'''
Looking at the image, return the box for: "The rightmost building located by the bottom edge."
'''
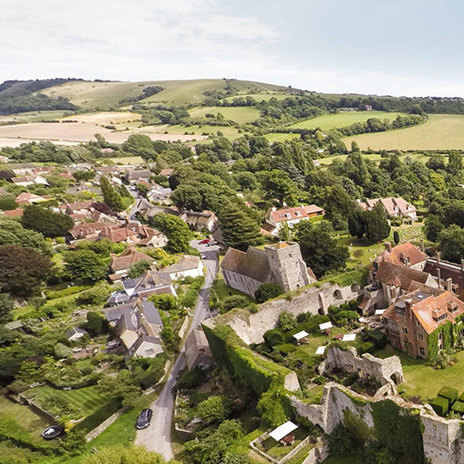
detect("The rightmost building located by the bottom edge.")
[419,396,462,464]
